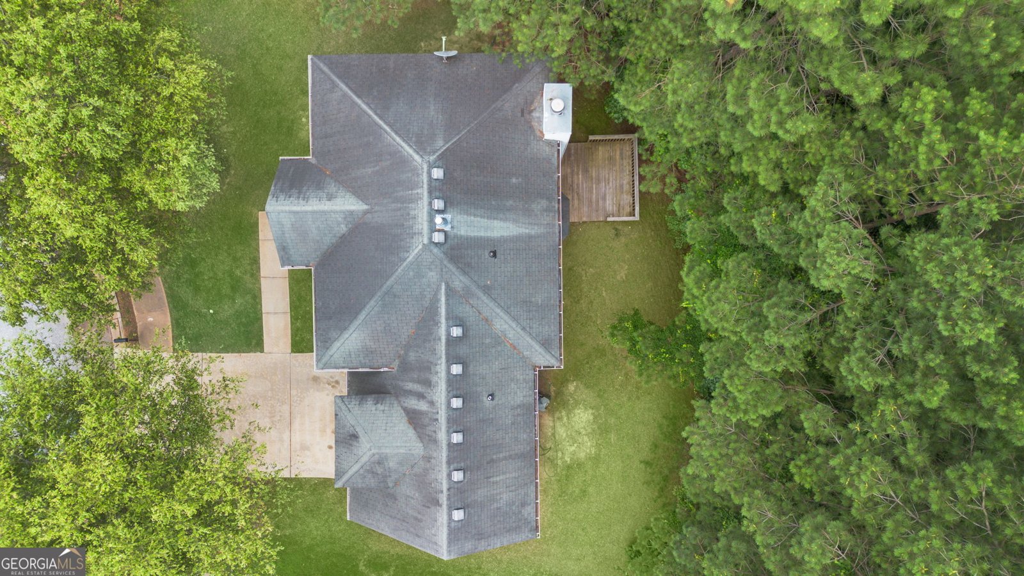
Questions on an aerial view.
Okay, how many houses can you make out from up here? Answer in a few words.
1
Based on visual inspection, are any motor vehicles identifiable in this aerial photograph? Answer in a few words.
No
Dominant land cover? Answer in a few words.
trees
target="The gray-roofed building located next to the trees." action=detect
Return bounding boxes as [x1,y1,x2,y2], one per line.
[266,51,573,560]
